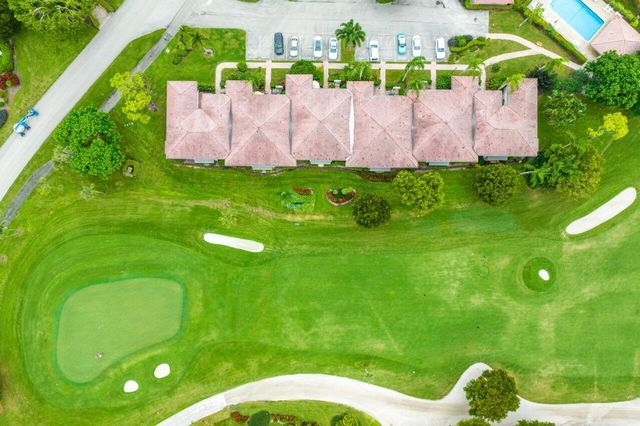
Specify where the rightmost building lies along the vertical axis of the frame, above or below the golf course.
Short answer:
above it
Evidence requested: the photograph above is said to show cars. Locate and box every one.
[328,38,338,61]
[369,41,379,62]
[273,32,284,56]
[312,36,322,59]
[396,33,407,56]
[289,36,299,58]
[411,36,422,57]
[434,37,446,60]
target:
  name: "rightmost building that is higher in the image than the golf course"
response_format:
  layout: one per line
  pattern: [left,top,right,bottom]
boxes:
[586,13,640,55]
